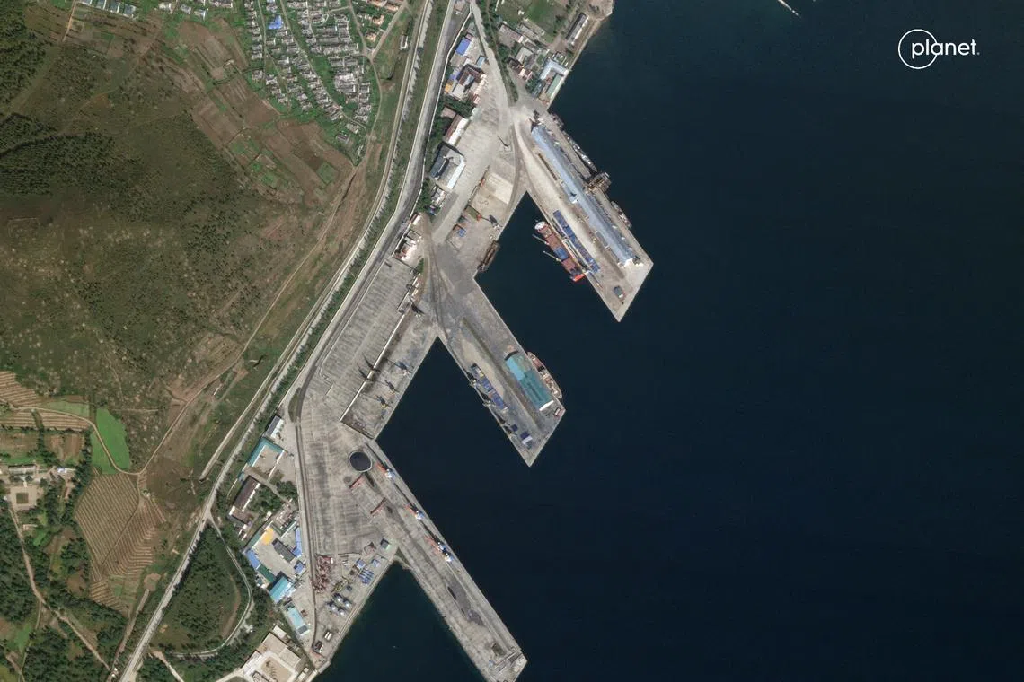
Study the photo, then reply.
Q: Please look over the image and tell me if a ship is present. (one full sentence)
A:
Yes, a ship is visible in the scene.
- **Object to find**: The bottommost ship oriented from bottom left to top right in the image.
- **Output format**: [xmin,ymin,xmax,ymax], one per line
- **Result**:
[478,241,502,273]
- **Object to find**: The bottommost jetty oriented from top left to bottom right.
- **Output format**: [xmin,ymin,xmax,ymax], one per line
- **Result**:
[375,440,527,682]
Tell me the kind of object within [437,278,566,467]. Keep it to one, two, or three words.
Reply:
pier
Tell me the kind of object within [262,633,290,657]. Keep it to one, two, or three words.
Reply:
building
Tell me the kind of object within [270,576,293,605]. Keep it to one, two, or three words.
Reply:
building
